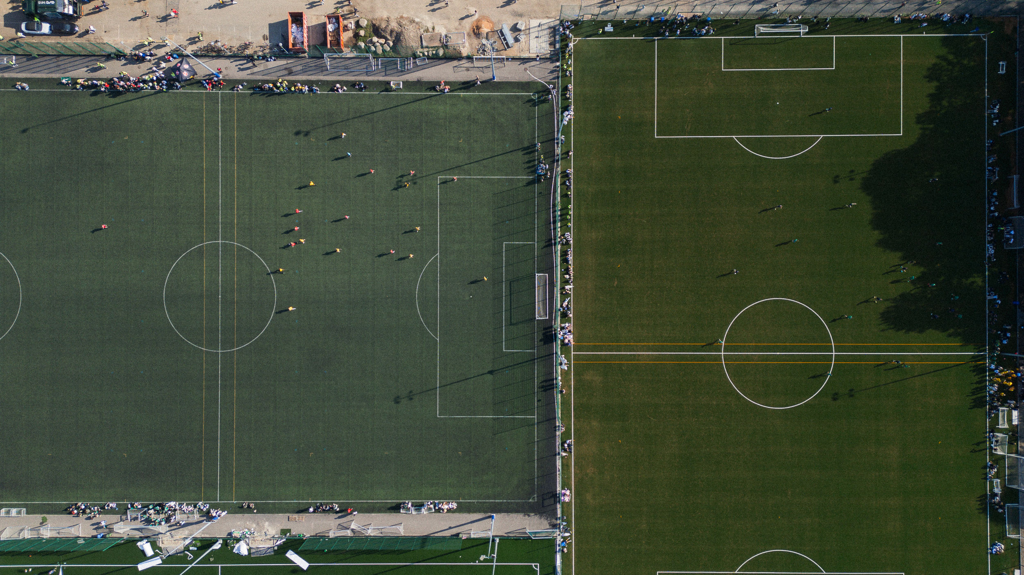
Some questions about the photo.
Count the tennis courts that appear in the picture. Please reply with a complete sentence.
I count no tennis courts.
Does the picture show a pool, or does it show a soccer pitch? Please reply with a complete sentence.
It is a soccer pitch that can be seen here.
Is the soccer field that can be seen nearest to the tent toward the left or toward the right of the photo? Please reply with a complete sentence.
It is on the left.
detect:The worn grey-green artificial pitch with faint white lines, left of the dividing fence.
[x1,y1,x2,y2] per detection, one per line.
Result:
[0,78,556,514]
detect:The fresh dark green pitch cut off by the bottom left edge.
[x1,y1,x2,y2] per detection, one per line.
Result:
[0,539,556,575]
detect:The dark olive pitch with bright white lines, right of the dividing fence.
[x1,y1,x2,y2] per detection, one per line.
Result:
[560,16,1021,575]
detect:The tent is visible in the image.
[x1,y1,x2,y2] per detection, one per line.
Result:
[170,56,201,87]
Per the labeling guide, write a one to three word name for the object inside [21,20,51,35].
car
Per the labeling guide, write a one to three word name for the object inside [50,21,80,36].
car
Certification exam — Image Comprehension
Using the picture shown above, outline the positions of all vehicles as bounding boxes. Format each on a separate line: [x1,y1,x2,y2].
[21,20,51,35]
[25,0,92,18]
[50,21,80,36]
